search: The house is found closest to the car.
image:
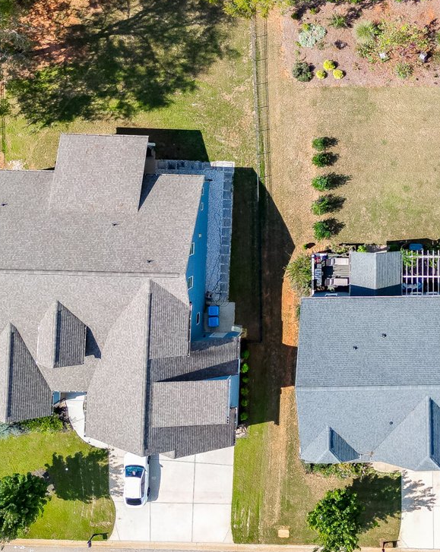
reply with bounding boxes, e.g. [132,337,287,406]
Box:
[0,132,242,461]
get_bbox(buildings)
[0,132,242,461]
[295,250,440,472]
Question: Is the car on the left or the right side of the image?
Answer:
left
